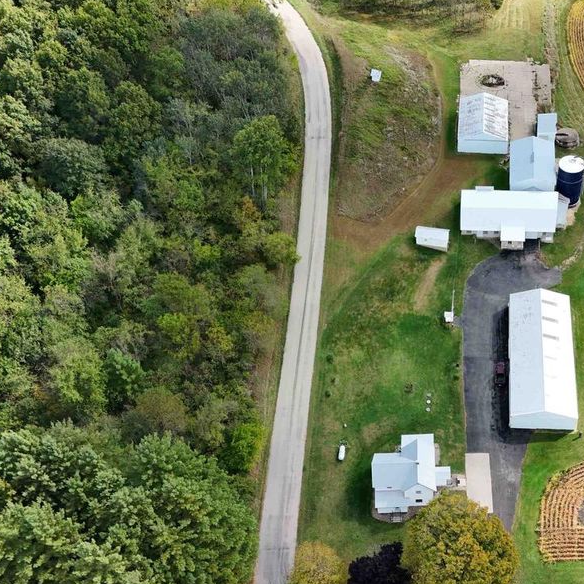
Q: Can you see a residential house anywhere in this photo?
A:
Yes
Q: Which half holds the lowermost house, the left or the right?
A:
right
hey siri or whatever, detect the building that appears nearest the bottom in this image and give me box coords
[373,435,457,522]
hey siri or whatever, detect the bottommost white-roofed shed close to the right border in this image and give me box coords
[509,287,578,430]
